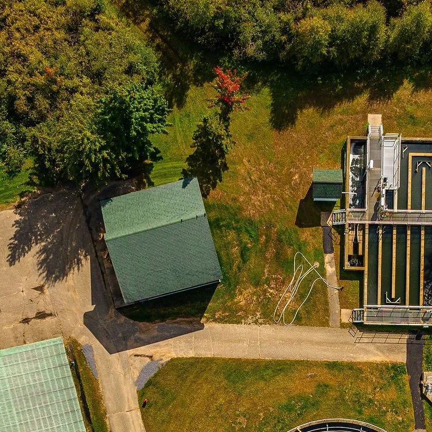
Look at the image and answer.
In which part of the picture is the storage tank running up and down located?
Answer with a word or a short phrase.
right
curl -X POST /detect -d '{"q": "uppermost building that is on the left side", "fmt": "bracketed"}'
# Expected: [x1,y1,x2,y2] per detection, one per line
[100,177,222,304]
